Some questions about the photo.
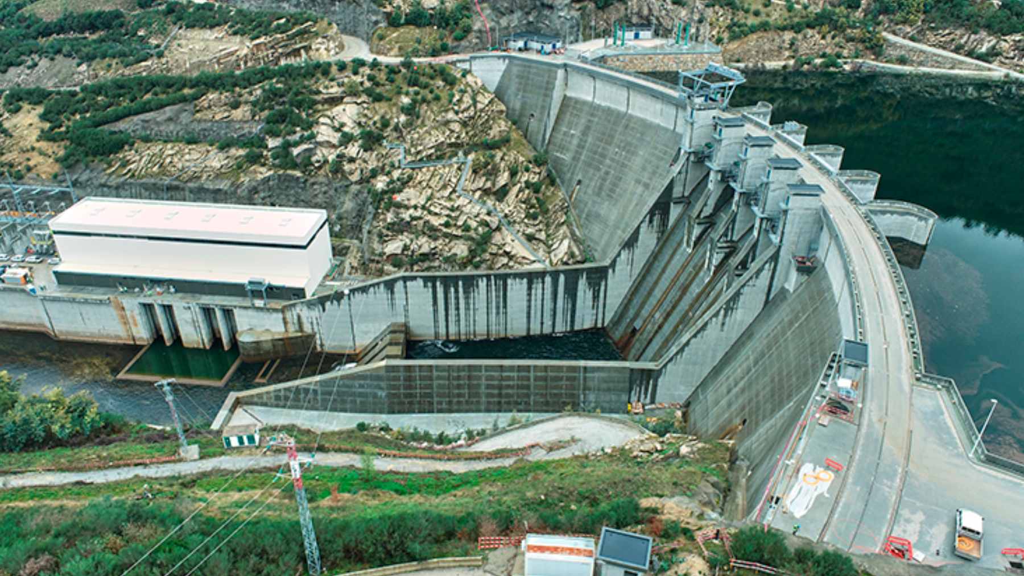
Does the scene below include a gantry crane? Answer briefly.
Yes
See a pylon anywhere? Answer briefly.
Yes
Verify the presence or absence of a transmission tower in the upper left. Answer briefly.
No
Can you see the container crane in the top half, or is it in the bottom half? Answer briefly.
top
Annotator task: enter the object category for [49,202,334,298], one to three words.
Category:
building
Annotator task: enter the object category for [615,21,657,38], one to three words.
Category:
shed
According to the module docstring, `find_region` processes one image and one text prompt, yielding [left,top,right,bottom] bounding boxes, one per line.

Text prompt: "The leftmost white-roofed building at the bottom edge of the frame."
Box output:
[523,533,598,576]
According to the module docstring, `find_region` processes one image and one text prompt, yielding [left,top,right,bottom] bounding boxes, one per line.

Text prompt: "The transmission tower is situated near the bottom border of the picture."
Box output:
[270,441,322,576]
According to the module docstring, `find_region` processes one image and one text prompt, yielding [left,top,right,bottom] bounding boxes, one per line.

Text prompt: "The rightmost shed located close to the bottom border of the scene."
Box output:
[599,524,656,576]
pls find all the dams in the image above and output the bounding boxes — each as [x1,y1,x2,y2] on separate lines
[452,47,1024,571]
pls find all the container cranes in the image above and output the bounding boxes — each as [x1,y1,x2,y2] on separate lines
[676,62,753,110]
